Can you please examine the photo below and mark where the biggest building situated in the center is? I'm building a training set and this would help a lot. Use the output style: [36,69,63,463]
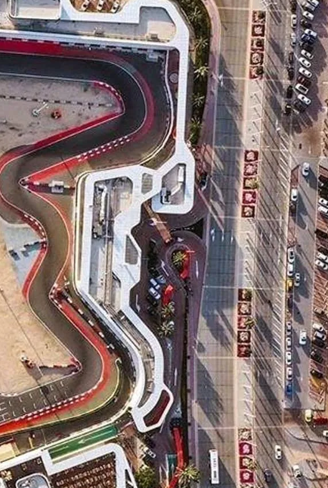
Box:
[74,145,194,432]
